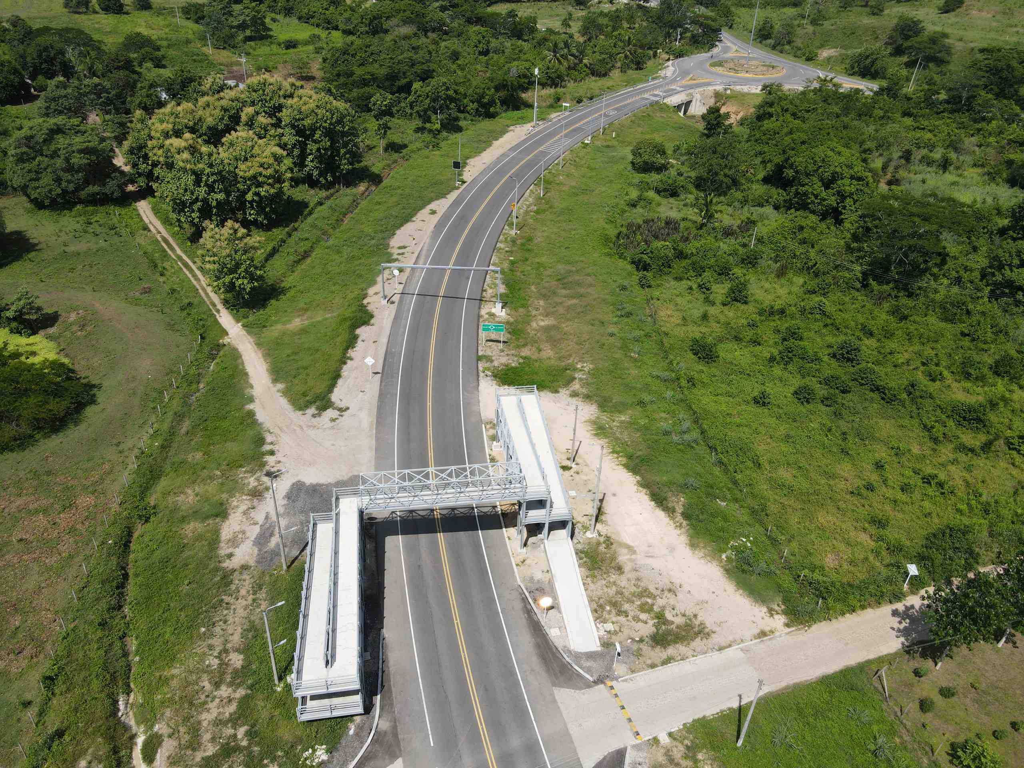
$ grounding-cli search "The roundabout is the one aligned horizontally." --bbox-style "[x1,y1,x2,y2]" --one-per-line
[657,22,906,99]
